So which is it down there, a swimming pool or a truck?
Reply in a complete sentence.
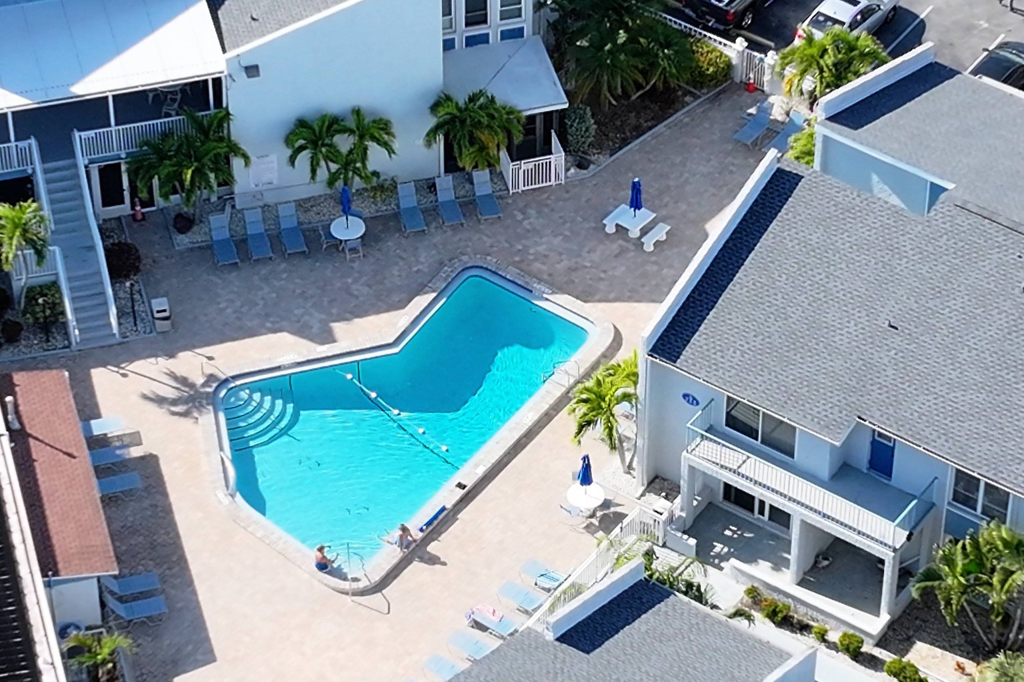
This aerial view contains a swimming pool.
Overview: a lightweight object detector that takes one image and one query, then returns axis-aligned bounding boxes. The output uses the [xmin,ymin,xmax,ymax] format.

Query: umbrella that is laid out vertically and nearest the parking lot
[631,170,643,217]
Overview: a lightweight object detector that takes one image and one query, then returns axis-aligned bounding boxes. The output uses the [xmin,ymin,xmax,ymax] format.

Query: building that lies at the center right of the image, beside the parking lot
[634,42,1024,644]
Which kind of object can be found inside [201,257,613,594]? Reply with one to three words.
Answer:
swimming pool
